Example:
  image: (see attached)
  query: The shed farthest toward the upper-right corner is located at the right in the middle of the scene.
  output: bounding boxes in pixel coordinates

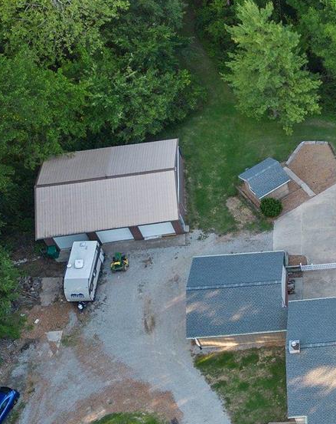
[240,158,292,205]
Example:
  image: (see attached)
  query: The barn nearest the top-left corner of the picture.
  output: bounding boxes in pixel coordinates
[33,139,188,252]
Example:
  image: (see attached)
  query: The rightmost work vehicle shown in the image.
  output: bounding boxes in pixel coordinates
[109,248,127,269]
